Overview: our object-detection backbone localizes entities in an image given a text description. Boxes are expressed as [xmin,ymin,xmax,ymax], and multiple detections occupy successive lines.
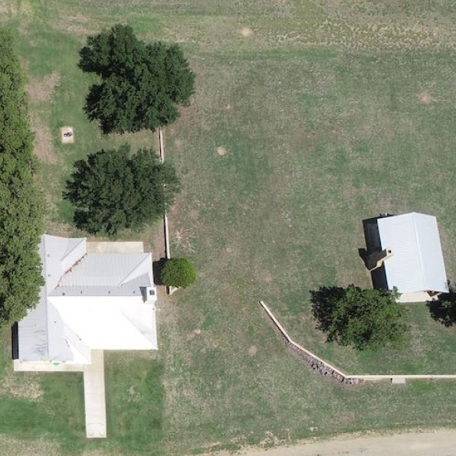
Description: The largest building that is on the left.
[17,233,160,367]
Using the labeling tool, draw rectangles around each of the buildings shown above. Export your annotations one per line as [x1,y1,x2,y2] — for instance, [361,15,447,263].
[17,233,160,367]
[361,212,449,302]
